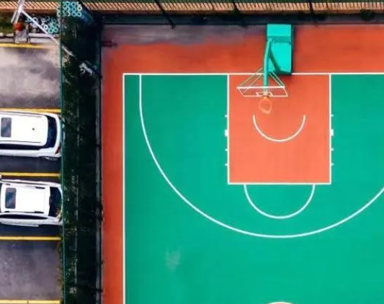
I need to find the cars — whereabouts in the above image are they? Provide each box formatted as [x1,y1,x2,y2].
[0,180,71,229]
[0,110,71,161]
